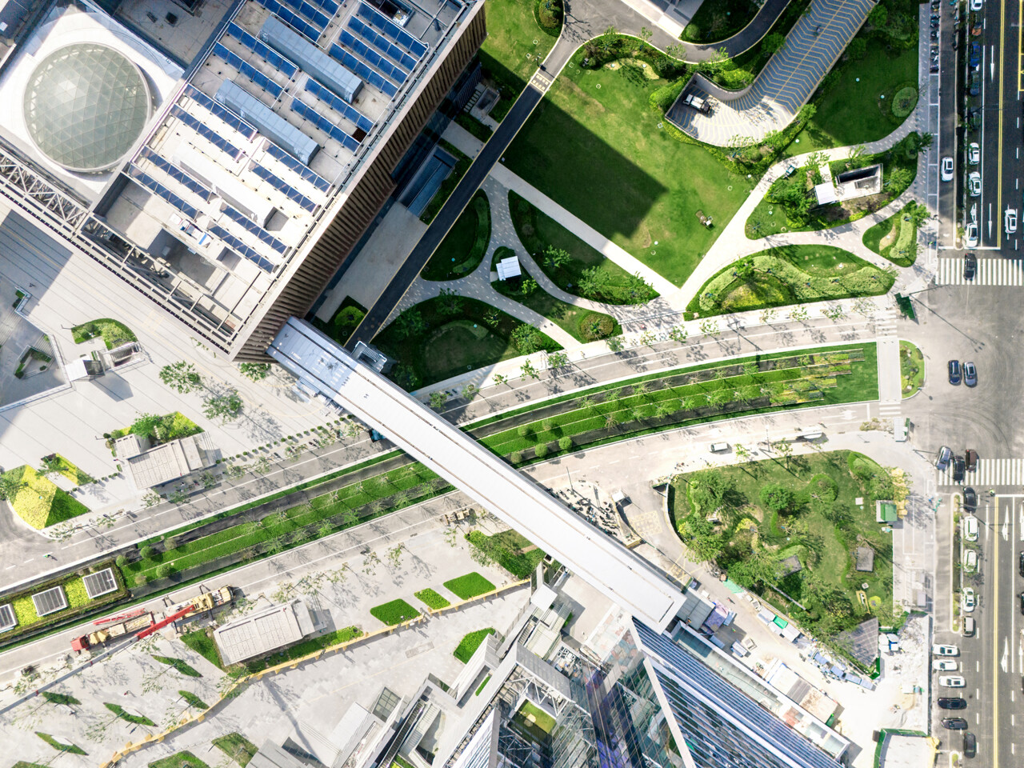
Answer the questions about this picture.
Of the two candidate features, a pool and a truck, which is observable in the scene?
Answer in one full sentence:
Of the two, only a truck appears.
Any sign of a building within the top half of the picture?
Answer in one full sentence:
Yes, the scene does show a building within the top half of the picture.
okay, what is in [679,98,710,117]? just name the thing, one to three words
vehicle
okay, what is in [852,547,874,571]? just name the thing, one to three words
shed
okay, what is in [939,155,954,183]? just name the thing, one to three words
car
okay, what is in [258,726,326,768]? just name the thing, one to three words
building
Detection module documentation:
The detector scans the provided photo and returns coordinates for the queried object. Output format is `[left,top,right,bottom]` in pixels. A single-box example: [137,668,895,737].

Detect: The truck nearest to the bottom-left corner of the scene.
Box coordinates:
[56,611,147,654]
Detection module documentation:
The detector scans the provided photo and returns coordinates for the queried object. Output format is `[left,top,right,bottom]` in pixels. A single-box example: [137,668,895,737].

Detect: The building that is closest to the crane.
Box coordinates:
[213,599,326,666]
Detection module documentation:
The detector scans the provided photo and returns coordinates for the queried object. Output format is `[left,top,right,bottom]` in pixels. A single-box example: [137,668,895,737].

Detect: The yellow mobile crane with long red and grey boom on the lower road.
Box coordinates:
[0,576,234,717]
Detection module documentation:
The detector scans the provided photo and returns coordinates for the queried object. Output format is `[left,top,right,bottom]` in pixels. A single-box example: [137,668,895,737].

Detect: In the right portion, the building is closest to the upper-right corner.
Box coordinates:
[811,162,882,208]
